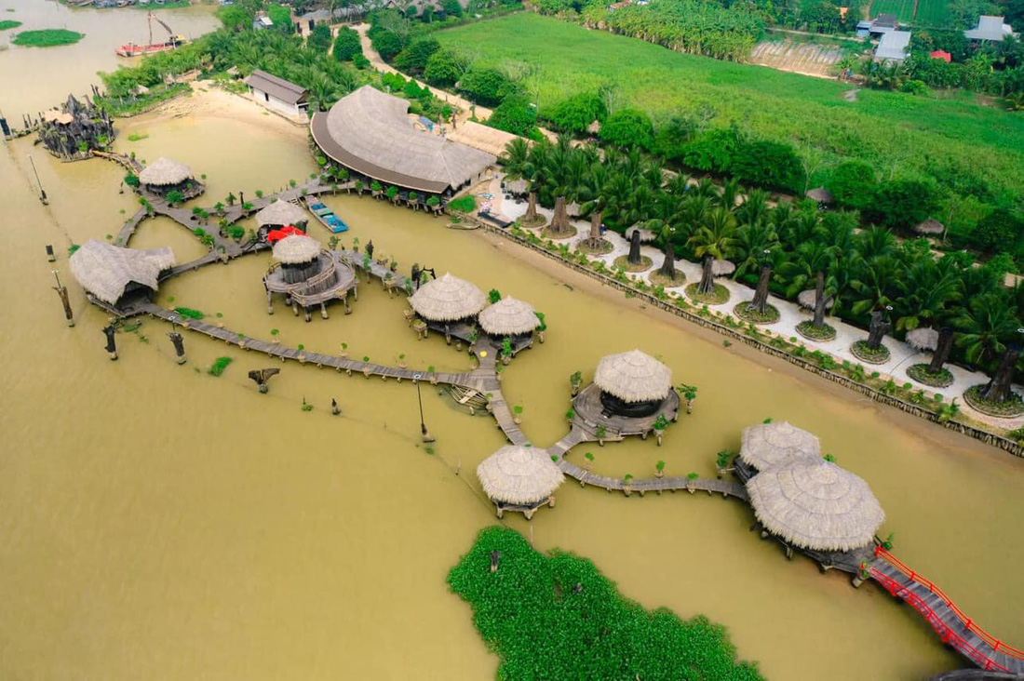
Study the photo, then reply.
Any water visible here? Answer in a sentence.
Yes, the picture does contain water.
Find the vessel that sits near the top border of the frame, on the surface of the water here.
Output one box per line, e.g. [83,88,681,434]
[117,9,187,55]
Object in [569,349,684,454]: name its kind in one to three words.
building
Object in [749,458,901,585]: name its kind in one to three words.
building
